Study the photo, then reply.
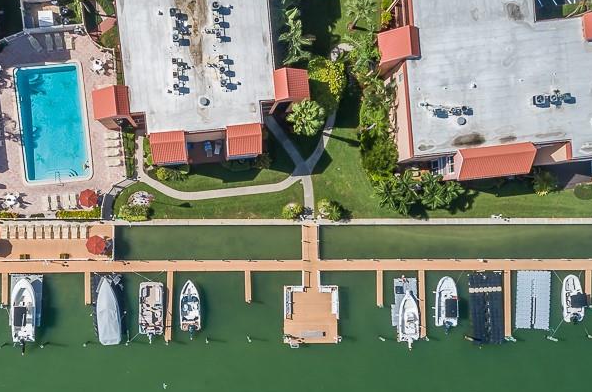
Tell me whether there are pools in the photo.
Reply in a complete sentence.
Yes, the image includes a pool.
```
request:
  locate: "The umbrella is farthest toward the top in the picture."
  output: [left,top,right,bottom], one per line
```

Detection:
[79,189,99,209]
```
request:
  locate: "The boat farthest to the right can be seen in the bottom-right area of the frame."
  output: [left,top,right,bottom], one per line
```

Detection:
[560,274,589,326]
